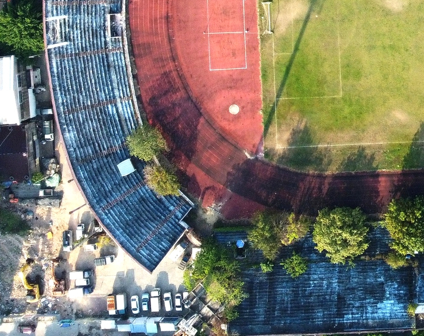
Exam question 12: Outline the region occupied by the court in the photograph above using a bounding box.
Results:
[207,0,247,71]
